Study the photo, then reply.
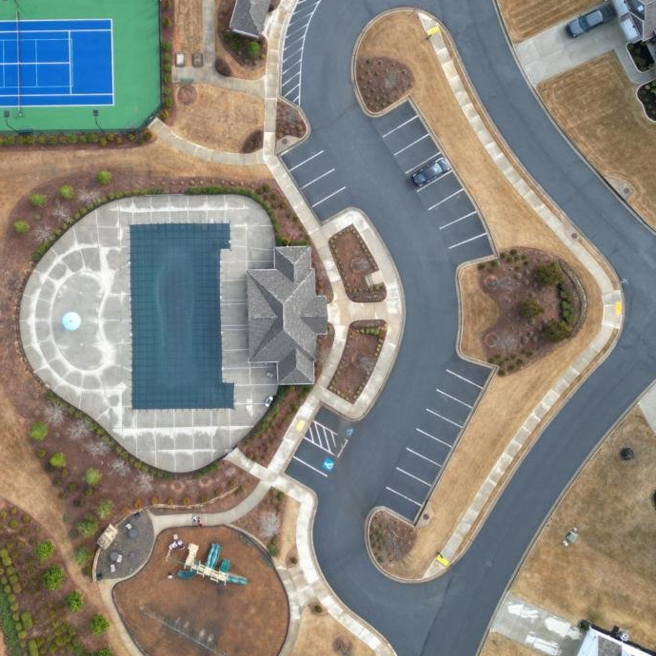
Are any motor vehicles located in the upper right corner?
Yes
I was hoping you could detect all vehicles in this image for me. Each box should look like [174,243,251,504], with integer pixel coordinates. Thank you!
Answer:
[561,3,616,41]
[411,157,450,189]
